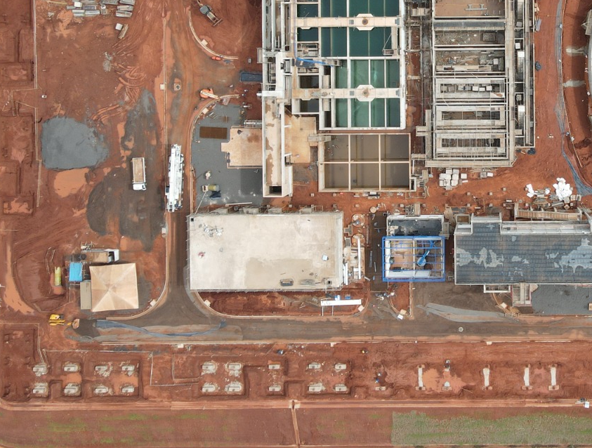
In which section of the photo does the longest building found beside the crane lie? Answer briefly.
center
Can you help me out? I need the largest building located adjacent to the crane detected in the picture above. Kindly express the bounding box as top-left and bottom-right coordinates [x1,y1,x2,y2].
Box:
[185,206,347,293]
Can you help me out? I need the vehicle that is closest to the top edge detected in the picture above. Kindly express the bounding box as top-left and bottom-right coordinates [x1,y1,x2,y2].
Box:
[194,0,220,26]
